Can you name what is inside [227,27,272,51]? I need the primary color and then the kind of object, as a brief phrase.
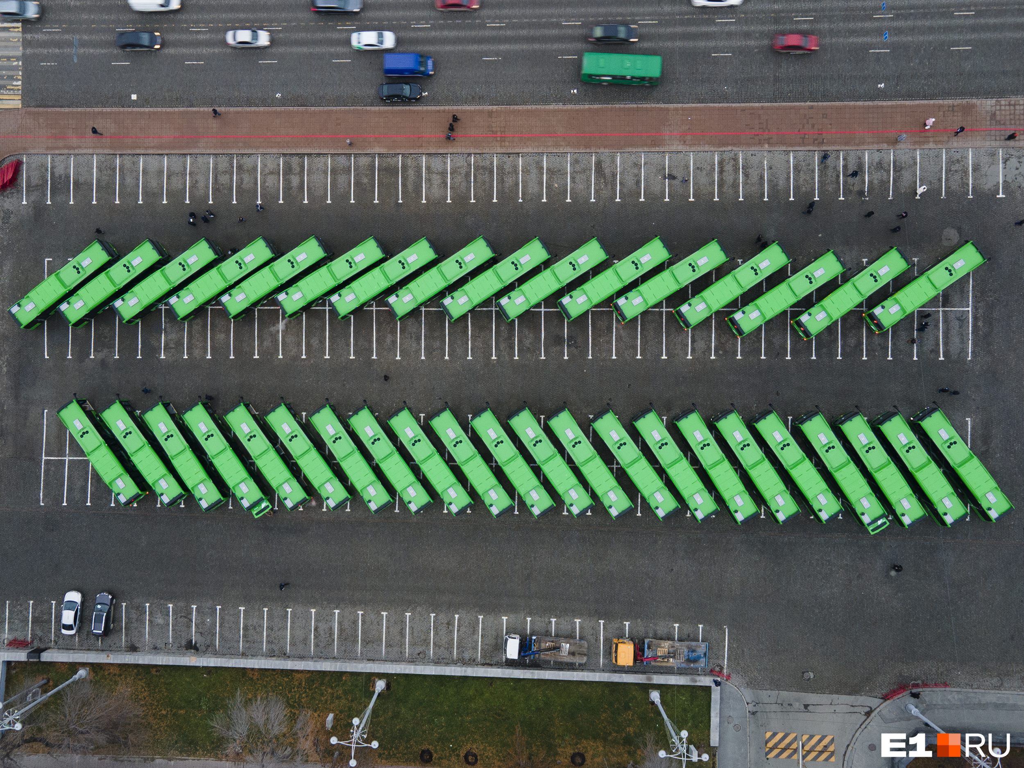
white car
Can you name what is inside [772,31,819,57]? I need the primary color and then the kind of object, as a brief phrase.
red car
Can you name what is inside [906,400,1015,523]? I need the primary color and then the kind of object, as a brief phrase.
green bus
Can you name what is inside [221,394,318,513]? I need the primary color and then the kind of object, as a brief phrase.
green bus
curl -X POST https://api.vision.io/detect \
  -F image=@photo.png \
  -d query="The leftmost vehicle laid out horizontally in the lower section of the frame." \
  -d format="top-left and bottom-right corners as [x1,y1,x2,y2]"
[502,631,588,664]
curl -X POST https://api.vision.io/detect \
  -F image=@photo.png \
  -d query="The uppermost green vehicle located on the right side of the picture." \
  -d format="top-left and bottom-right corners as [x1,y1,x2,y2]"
[581,52,664,89]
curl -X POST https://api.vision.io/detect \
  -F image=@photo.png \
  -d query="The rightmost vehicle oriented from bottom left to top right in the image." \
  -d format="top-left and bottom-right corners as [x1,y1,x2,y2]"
[856,238,993,335]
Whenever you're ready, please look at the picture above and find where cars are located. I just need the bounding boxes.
[590,22,637,48]
[437,0,479,14]
[0,0,44,22]
[91,590,118,636]
[352,29,397,53]
[692,0,741,12]
[772,31,819,57]
[133,0,179,16]
[119,30,163,54]
[63,589,88,634]
[314,0,362,16]
[227,27,272,51]
[379,81,423,104]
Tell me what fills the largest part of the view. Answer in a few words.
paved ground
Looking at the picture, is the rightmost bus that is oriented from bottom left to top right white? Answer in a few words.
No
